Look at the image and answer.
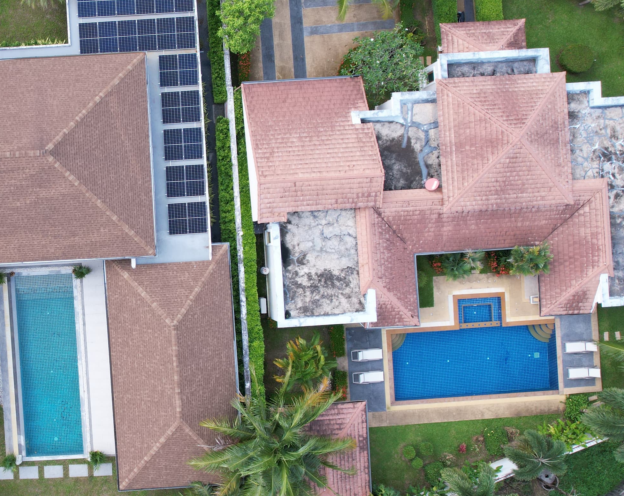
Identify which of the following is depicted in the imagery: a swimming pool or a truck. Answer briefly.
swimming pool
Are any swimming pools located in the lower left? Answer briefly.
Yes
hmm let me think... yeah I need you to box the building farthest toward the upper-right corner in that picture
[238,17,624,329]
